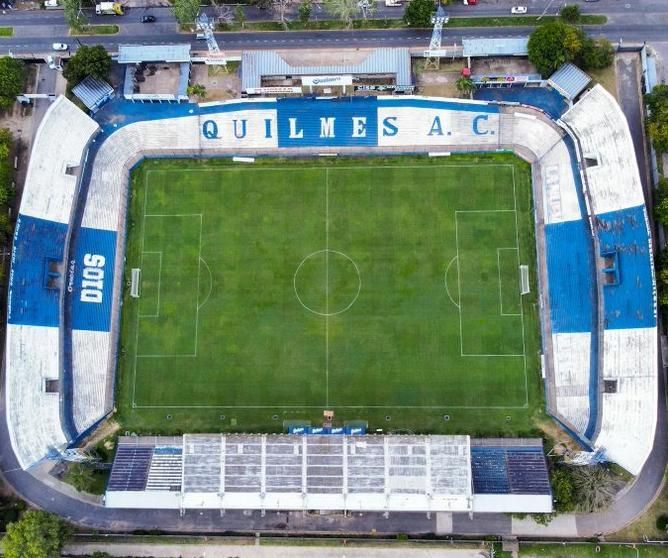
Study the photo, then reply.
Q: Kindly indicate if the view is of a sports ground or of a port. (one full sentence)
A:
This looks like a sports ground.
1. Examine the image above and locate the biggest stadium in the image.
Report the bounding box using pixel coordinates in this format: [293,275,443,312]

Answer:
[5,82,660,476]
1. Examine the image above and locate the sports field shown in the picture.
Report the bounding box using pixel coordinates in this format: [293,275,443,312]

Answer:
[113,155,552,441]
